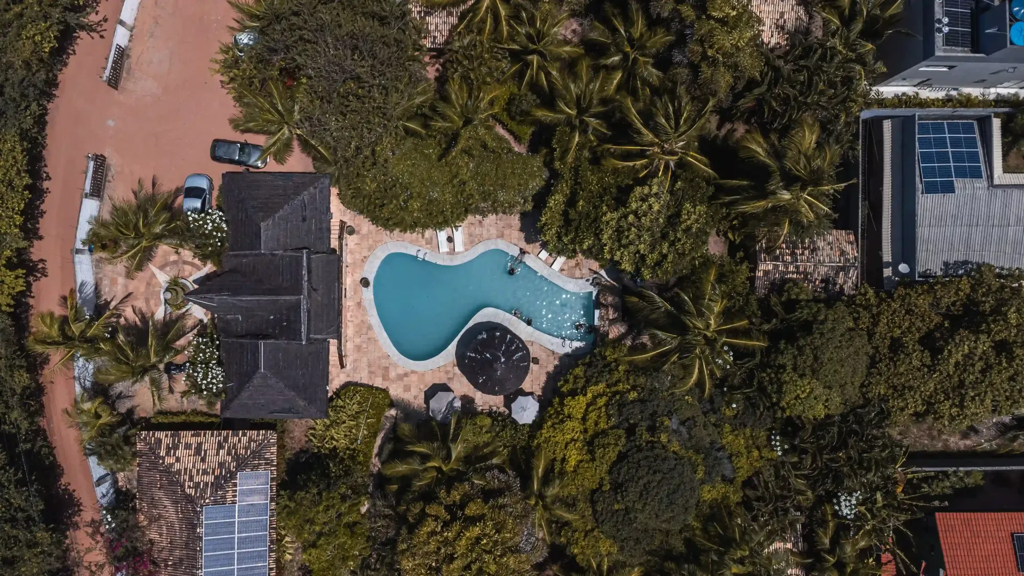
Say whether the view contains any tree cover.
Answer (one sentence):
Yes, there's tree cover in this view.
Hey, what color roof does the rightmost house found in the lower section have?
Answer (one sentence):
The roof of the rightmost house found in the lower section is red.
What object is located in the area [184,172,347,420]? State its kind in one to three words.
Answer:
house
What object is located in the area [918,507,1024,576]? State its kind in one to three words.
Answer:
house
